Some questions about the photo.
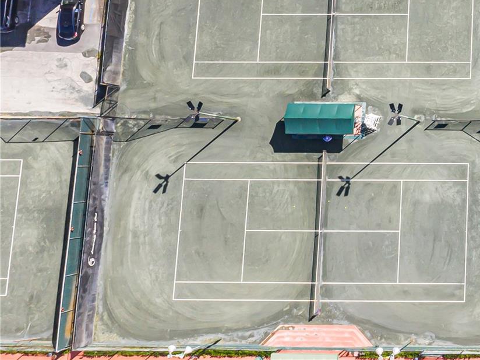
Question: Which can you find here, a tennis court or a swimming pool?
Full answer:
I can see a tennis court in this picture.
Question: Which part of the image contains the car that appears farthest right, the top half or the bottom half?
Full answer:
The top half of the photo is where the car that appears farthest right is.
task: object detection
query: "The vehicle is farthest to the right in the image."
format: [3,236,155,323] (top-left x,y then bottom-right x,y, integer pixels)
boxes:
[57,0,87,42]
